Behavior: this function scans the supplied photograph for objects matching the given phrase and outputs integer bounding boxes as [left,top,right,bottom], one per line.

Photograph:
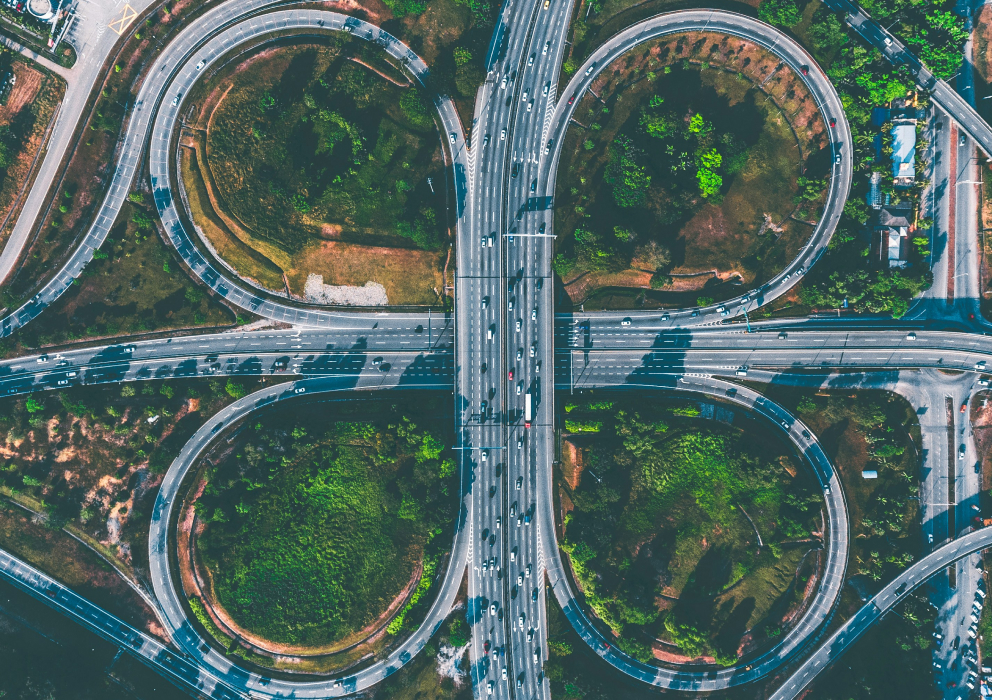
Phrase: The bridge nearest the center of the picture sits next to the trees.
[455,0,574,700]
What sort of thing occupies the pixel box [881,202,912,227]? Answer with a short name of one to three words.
building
